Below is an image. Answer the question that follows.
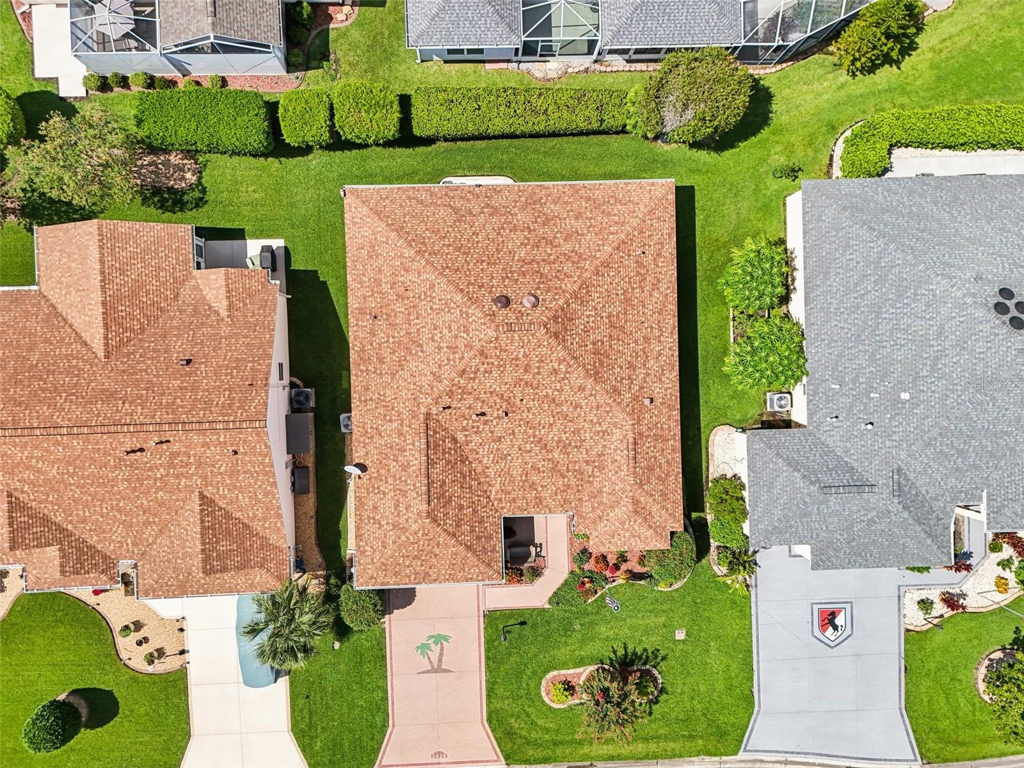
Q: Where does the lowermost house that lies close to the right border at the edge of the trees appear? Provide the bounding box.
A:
[736,176,1024,572]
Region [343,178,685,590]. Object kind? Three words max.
house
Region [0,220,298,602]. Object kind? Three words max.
house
